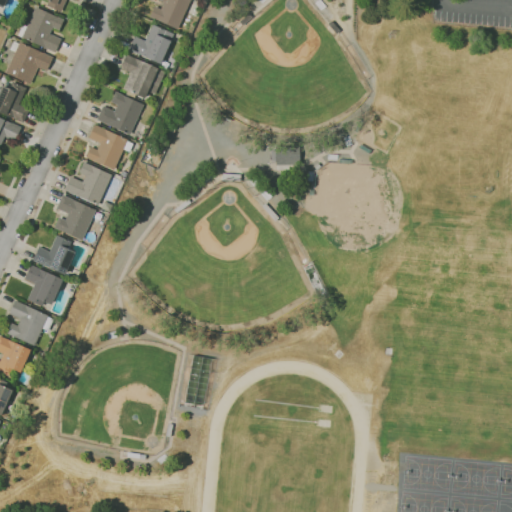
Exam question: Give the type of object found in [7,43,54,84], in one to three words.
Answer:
house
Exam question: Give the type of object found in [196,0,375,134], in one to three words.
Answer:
baseball field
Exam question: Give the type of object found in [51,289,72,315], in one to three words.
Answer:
swimming pool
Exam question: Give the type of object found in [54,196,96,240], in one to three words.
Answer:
house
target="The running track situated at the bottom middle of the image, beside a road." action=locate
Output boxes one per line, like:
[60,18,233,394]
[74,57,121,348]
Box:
[202,358,368,512]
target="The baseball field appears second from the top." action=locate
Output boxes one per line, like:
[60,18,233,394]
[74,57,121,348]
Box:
[132,181,315,333]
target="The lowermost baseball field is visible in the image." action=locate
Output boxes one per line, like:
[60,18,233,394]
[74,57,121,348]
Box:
[54,334,182,456]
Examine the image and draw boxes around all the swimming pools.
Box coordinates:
[70,244,86,270]
[85,232,97,244]
[51,289,72,315]
[18,371,31,386]
[2,0,20,18]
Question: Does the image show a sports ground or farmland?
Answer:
sports ground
